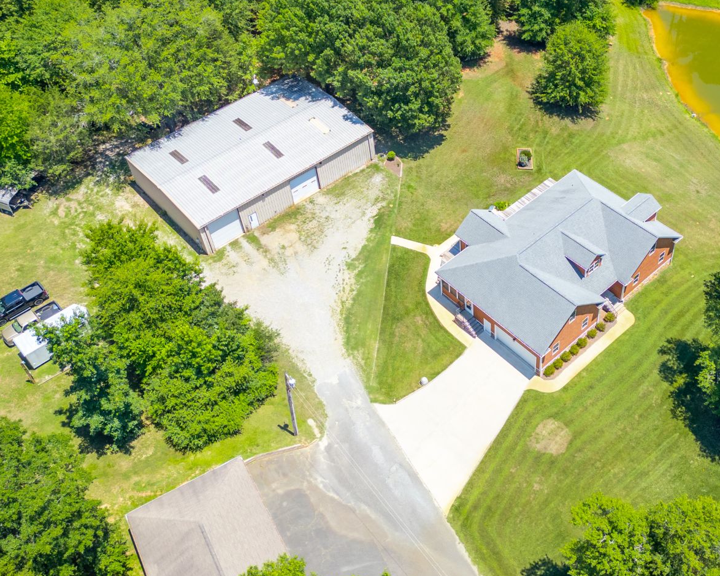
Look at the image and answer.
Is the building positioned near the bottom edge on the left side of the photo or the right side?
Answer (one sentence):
It is on the left.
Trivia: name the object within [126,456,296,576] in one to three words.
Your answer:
building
